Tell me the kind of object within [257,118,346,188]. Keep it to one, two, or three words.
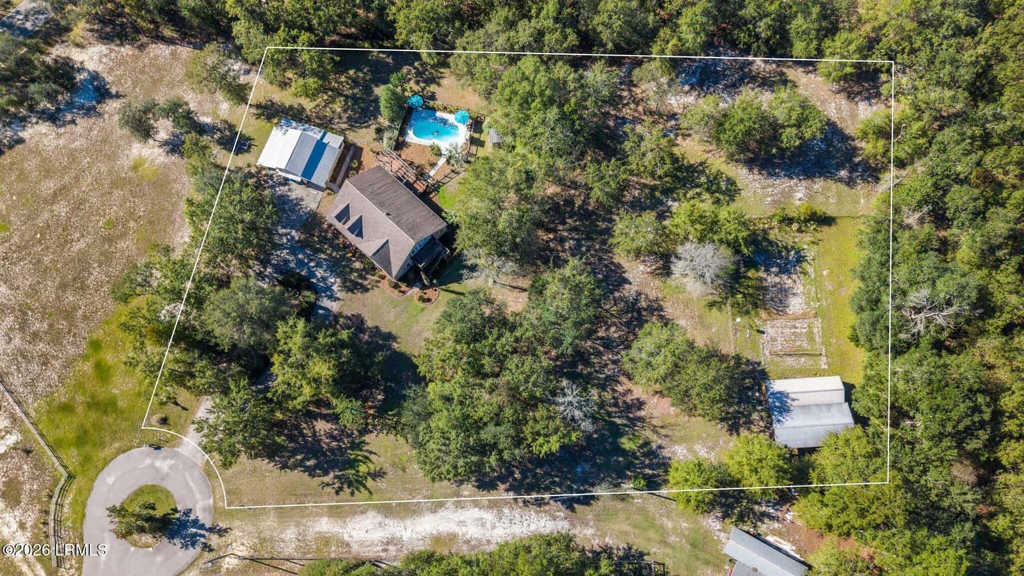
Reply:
building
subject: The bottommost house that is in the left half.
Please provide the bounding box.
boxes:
[325,159,456,279]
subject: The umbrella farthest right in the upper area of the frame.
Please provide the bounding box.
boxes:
[455,111,470,125]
